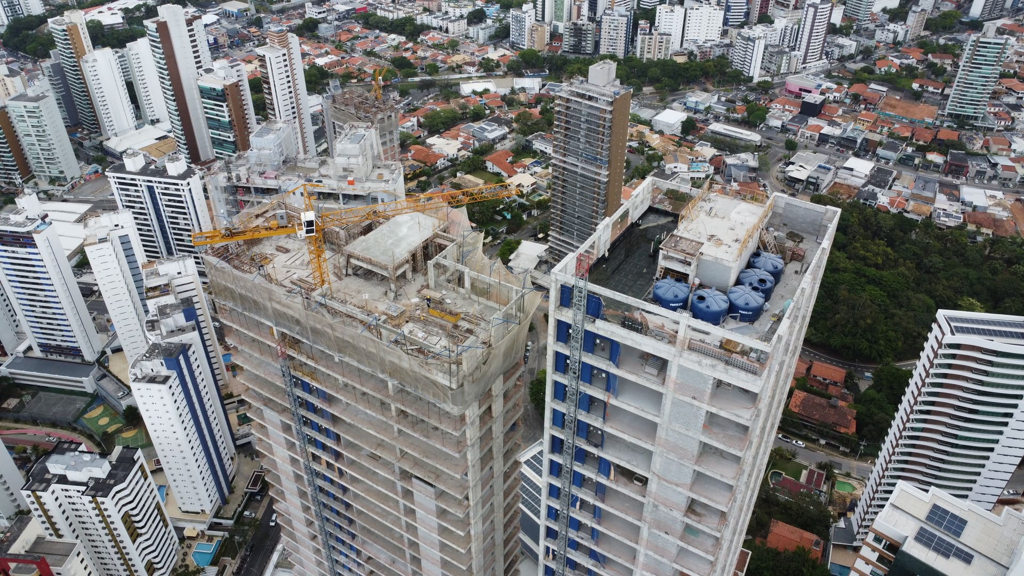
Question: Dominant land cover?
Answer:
buildings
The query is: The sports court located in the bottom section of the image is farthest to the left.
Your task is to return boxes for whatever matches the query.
[22,392,89,420]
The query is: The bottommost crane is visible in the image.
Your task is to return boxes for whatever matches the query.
[189,181,525,343]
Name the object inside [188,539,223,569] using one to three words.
swimming pool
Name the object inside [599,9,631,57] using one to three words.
building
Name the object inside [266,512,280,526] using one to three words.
car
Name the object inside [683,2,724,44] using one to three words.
building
